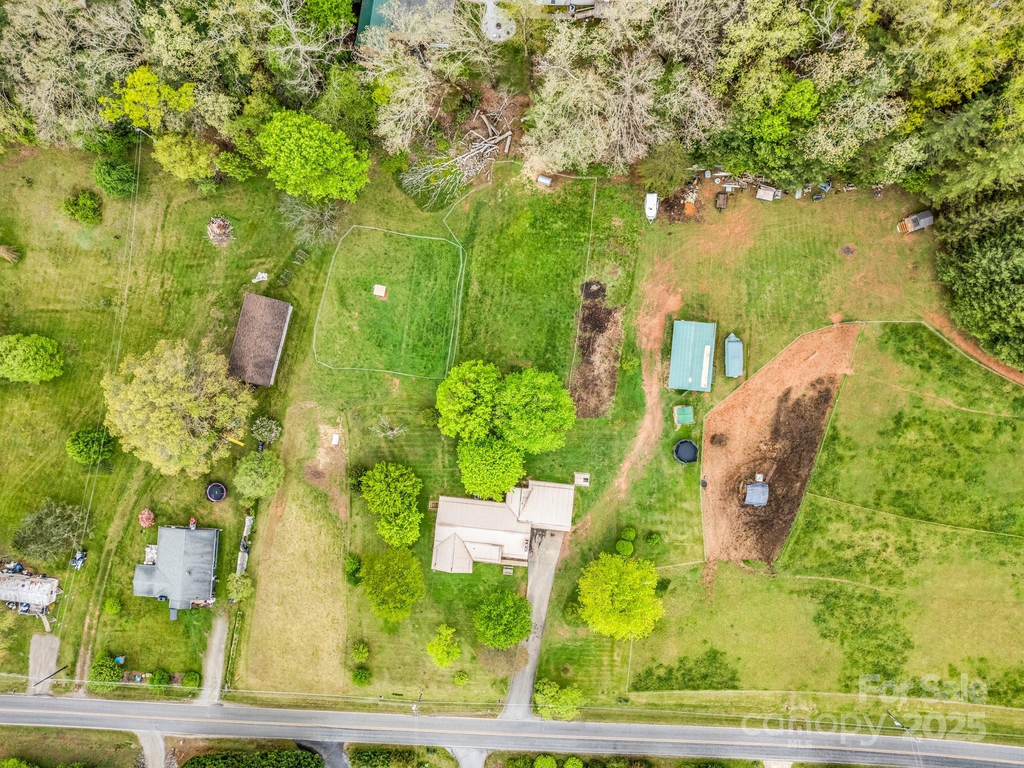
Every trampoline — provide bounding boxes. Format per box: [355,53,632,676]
[675,441,699,466]
[204,482,227,504]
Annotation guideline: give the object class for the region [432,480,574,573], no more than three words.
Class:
house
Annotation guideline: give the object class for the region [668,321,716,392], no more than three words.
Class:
barn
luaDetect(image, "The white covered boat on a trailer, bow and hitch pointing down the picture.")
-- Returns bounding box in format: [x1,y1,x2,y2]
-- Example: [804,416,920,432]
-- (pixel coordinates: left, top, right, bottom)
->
[644,194,660,225]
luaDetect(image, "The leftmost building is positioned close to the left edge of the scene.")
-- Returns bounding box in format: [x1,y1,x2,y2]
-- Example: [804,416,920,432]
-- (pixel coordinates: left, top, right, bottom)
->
[0,573,62,609]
